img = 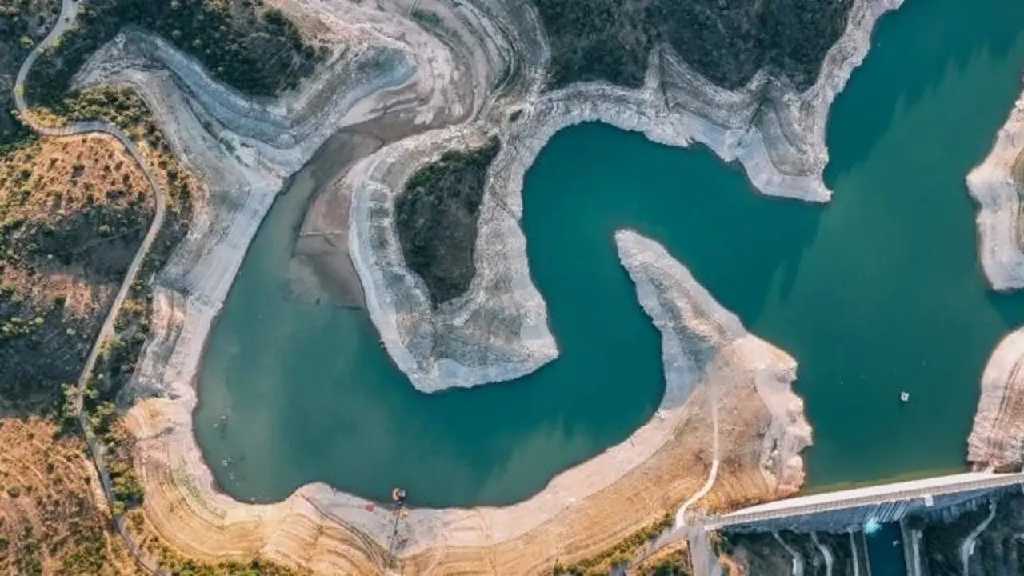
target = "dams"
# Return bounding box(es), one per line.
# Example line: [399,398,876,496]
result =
[697,473,1024,530]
